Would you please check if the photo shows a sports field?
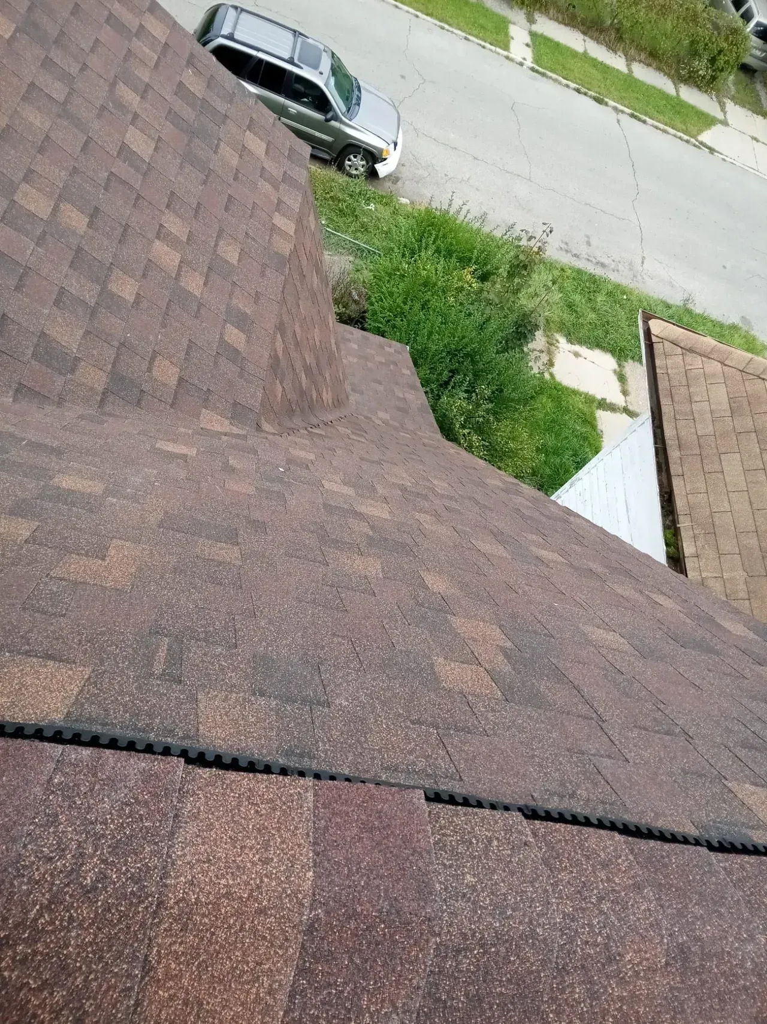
No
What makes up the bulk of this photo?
buildings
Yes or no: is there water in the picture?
No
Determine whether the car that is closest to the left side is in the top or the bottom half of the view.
top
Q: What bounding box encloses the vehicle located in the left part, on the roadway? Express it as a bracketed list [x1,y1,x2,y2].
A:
[192,0,402,176]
